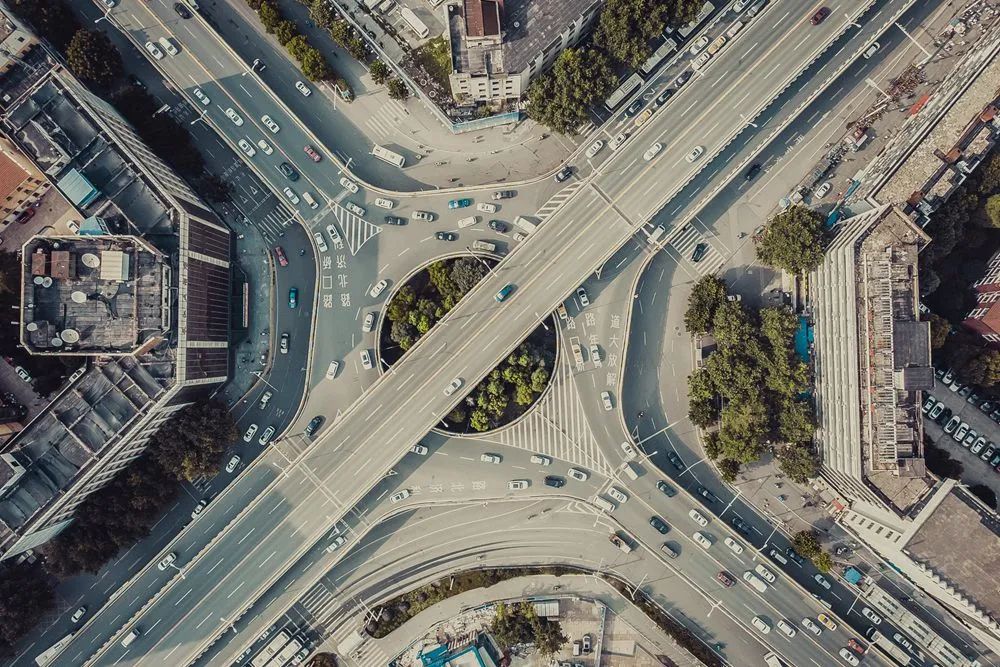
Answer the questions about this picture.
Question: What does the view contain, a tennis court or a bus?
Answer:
bus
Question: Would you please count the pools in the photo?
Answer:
0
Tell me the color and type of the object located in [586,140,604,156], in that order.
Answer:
white car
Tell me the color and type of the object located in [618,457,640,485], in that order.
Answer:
white vehicle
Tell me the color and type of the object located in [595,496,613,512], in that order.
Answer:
white vehicle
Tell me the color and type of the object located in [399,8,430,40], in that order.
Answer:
white bus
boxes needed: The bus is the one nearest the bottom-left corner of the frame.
[34,628,77,667]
